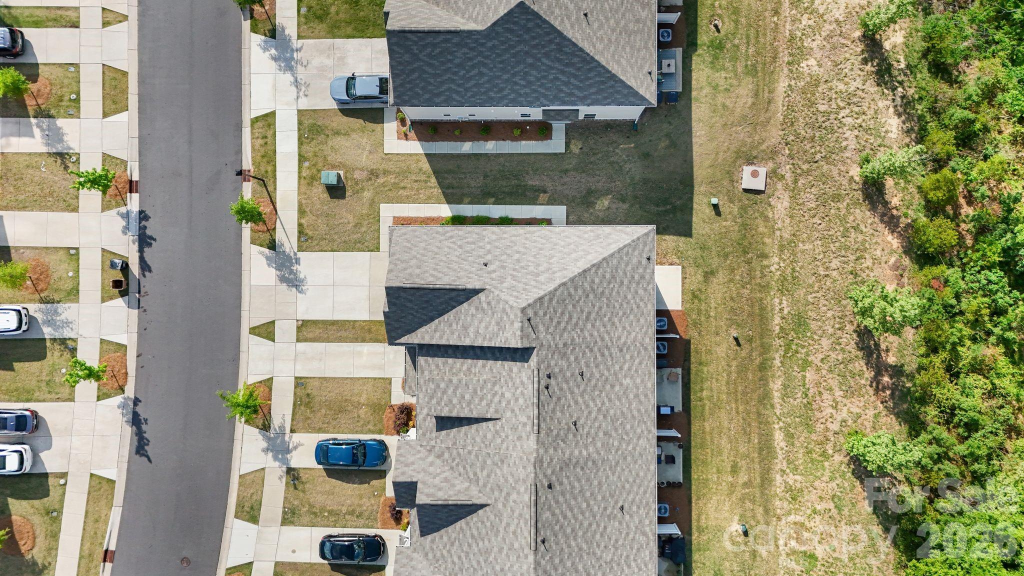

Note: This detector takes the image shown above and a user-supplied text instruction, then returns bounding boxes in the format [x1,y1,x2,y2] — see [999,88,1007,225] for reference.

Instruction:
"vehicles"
[329,71,386,104]
[0,306,34,334]
[0,406,43,434]
[0,28,28,59]
[319,531,387,566]
[0,443,37,473]
[315,438,389,471]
